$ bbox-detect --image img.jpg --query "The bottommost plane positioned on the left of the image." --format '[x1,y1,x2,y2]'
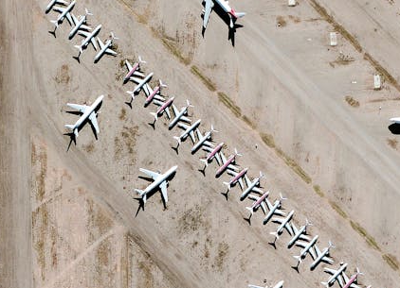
[134,166,177,202]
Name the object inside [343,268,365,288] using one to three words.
airplane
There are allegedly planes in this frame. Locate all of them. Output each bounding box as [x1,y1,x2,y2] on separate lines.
[170,100,194,128]
[311,241,335,269]
[322,264,348,288]
[71,8,93,36]
[124,55,146,84]
[223,168,248,189]
[134,166,177,202]
[75,26,100,52]
[265,193,288,221]
[150,98,174,120]
[194,125,219,152]
[96,32,119,60]
[246,192,269,213]
[50,0,75,26]
[126,73,153,98]
[294,236,319,262]
[202,0,247,27]
[173,120,201,143]
[270,211,294,238]
[201,143,223,165]
[218,149,243,176]
[242,172,266,199]
[290,219,312,246]
[48,0,70,10]
[65,96,103,136]
[146,80,168,105]
[343,268,365,288]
